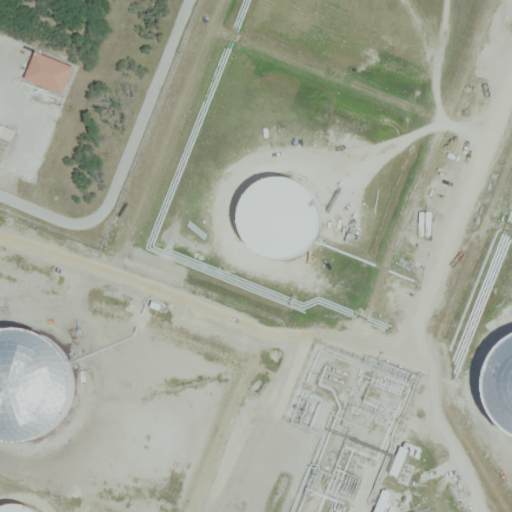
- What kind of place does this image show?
industrial area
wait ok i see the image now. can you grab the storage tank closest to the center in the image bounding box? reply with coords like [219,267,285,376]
[234,176,322,262]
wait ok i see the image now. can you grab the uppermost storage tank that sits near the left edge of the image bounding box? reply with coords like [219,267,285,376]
[0,327,76,442]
